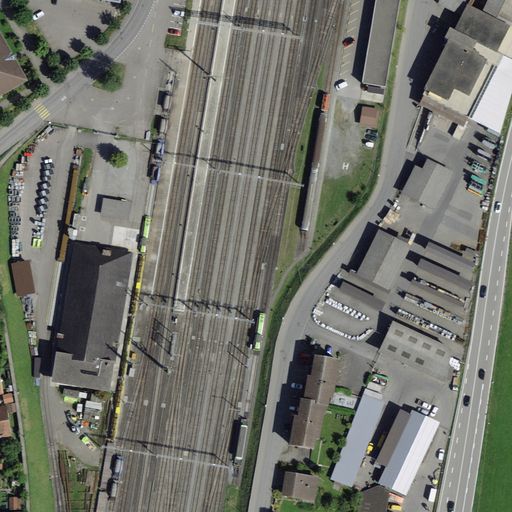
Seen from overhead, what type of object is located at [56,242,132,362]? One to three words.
building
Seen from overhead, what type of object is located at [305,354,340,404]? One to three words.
house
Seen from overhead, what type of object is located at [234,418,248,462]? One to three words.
rail car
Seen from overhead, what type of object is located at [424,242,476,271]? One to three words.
shed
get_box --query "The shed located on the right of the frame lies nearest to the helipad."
[360,106,379,128]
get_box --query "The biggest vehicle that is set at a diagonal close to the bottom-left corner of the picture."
[79,433,99,452]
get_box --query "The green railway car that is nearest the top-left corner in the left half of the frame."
[139,214,152,254]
